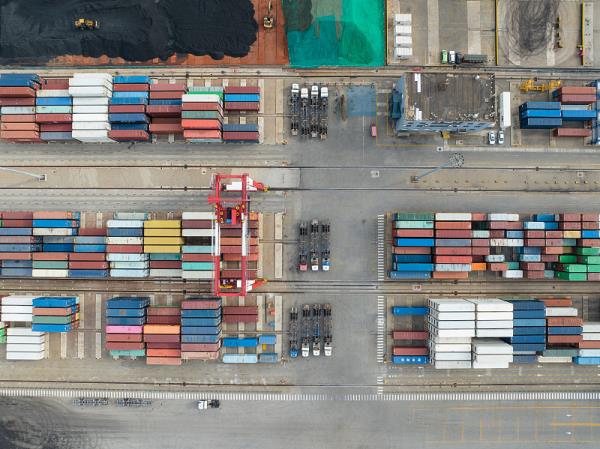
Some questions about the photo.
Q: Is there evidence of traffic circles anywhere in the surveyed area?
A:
No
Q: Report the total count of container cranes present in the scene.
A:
1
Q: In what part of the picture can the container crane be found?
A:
center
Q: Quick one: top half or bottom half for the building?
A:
top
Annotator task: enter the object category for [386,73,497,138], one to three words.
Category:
building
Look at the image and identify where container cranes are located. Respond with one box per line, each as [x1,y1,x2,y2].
[206,176,271,294]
